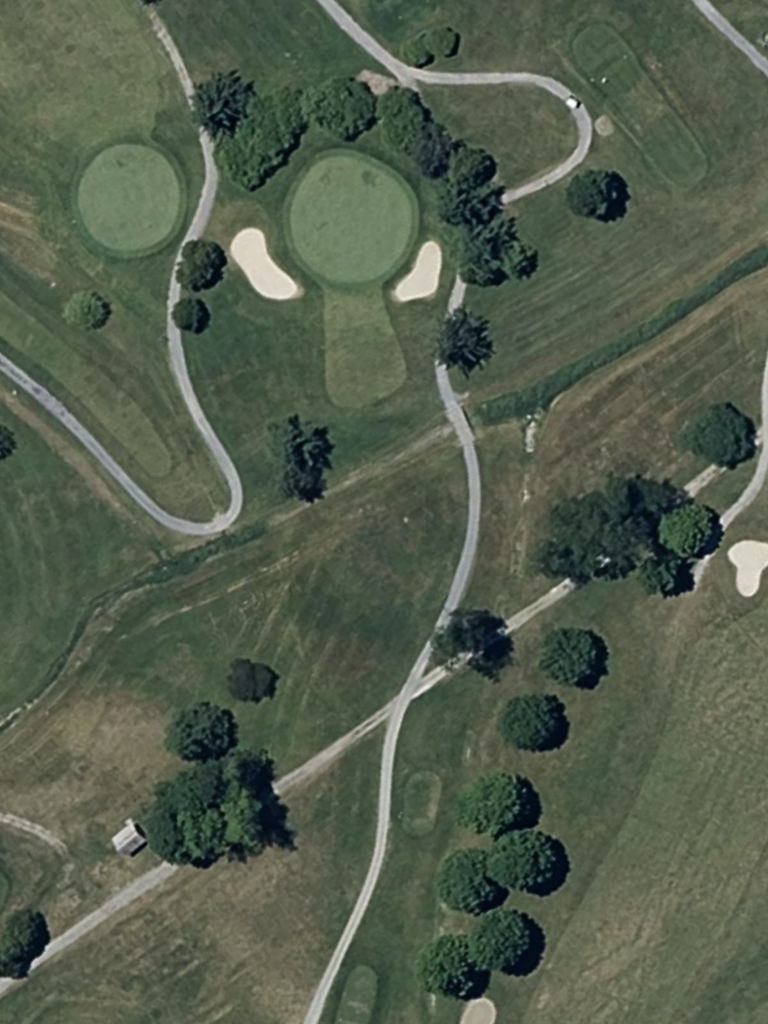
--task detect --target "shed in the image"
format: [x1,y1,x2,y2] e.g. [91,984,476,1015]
[112,823,145,856]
